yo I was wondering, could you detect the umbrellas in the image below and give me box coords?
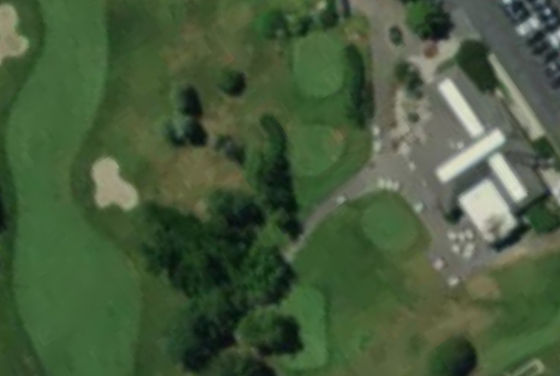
[447,230,456,240]
[465,242,475,251]
[465,230,474,239]
[456,232,466,242]
[451,244,460,253]
[461,249,471,259]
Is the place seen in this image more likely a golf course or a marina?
golf course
